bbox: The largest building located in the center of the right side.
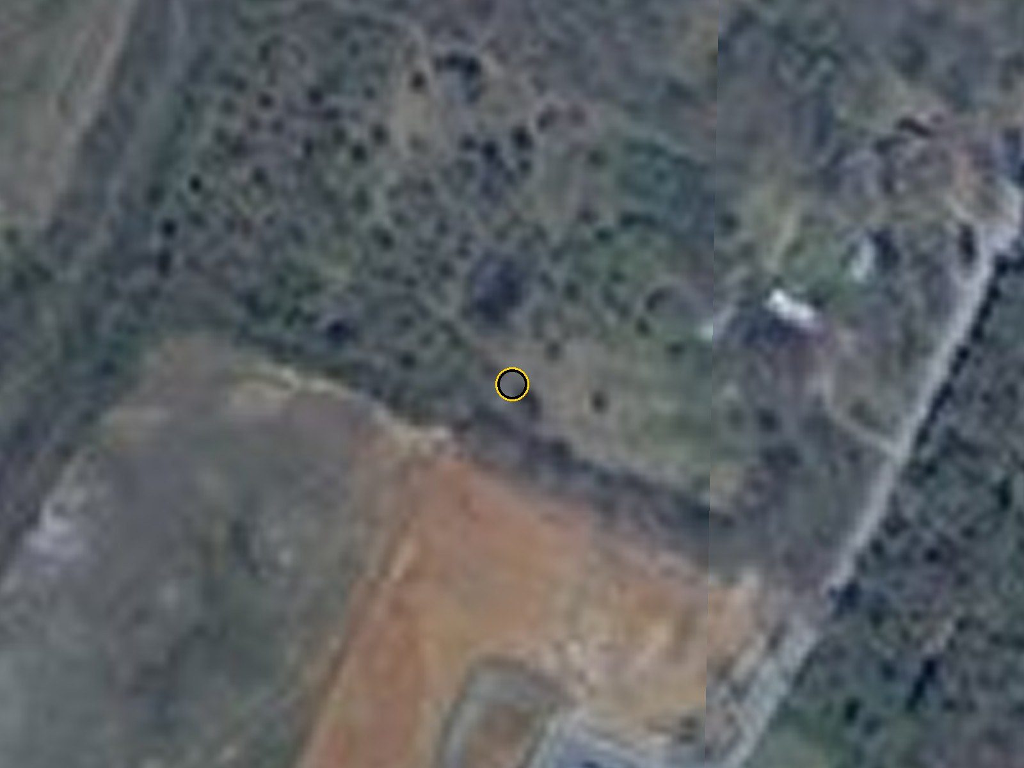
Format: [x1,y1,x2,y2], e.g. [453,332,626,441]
[737,308,799,358]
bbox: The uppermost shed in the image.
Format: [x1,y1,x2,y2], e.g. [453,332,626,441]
[854,232,875,280]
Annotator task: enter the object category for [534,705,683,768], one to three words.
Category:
house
